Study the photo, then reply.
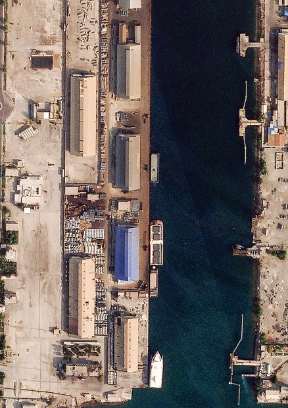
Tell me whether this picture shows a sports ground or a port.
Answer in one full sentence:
The picture captures a port.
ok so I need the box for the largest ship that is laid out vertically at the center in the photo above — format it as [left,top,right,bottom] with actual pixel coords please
[150,219,163,266]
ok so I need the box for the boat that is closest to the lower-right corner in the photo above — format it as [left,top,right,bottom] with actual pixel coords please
[150,351,162,389]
